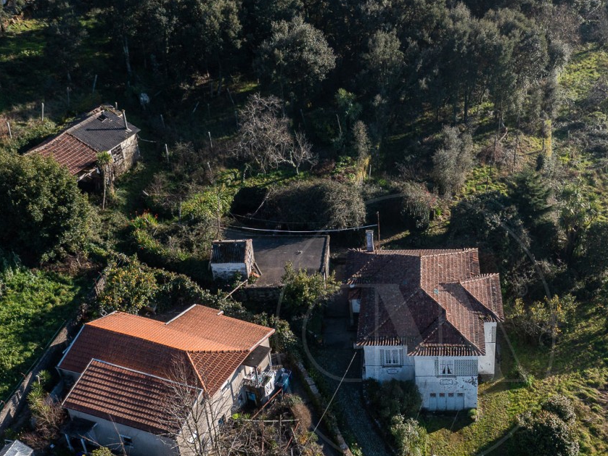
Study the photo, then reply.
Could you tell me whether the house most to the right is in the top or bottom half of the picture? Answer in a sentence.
It is in the bottom half that the house most to the right appears.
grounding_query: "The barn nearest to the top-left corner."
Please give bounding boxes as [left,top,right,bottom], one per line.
[16,108,143,184]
